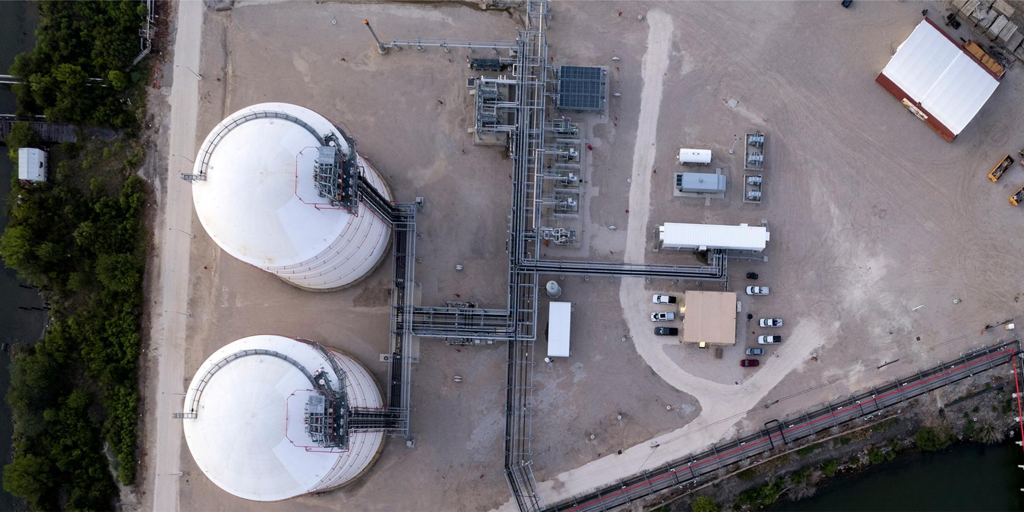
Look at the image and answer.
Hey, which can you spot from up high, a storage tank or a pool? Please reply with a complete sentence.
Looking from above, you can make out a storage tank.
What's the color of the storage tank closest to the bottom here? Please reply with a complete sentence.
The storage tank closest to the bottom is white.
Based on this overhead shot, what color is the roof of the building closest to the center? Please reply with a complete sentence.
From above, the roof of the building closest to the center looks white.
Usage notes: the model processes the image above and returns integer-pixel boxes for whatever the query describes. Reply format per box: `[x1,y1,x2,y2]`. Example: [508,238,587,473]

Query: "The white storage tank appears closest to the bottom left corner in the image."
[164,333,407,503]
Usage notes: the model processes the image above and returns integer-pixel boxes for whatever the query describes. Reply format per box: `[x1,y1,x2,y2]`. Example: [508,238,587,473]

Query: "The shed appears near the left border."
[18,147,56,185]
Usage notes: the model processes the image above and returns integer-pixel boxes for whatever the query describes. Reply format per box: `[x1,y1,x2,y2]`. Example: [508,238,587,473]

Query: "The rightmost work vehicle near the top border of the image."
[951,14,963,29]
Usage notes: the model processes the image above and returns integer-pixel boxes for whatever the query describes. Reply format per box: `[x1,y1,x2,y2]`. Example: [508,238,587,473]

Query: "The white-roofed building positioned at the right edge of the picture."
[877,17,1001,144]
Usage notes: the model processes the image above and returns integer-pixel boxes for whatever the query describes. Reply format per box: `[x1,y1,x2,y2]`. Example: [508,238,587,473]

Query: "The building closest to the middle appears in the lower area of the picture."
[546,302,572,357]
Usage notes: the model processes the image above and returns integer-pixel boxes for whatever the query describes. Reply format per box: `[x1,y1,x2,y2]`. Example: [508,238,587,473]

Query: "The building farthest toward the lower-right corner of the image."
[679,291,736,348]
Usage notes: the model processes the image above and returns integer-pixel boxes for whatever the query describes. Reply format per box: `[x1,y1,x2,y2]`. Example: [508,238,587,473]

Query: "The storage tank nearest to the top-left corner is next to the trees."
[168,101,413,290]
